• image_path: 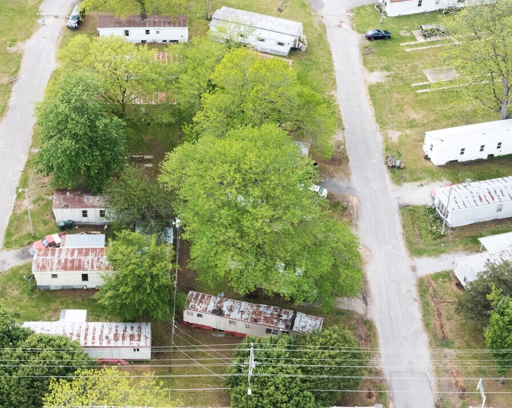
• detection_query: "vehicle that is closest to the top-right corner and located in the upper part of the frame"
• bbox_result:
[419,23,448,35]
